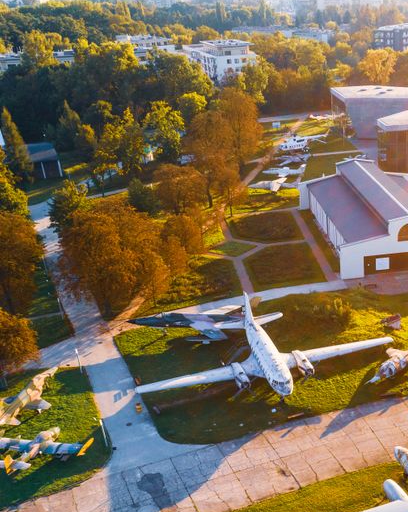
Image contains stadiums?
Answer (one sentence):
No, there's no stadium here.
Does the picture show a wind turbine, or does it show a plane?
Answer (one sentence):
There is a plane in the scene.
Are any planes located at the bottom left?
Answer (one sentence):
Yes, the scene does show a plane at the bottom left.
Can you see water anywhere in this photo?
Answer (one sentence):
No, the picture contains no water.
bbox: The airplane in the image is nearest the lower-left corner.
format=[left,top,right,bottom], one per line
[0,429,87,477]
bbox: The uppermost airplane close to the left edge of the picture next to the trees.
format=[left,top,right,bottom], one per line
[0,368,58,423]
